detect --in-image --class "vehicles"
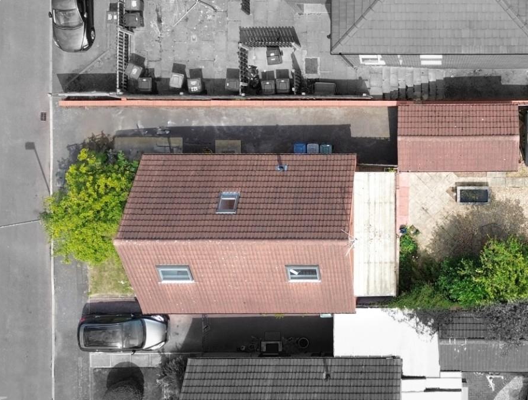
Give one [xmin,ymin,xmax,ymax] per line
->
[74,310,173,358]
[46,0,98,54]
